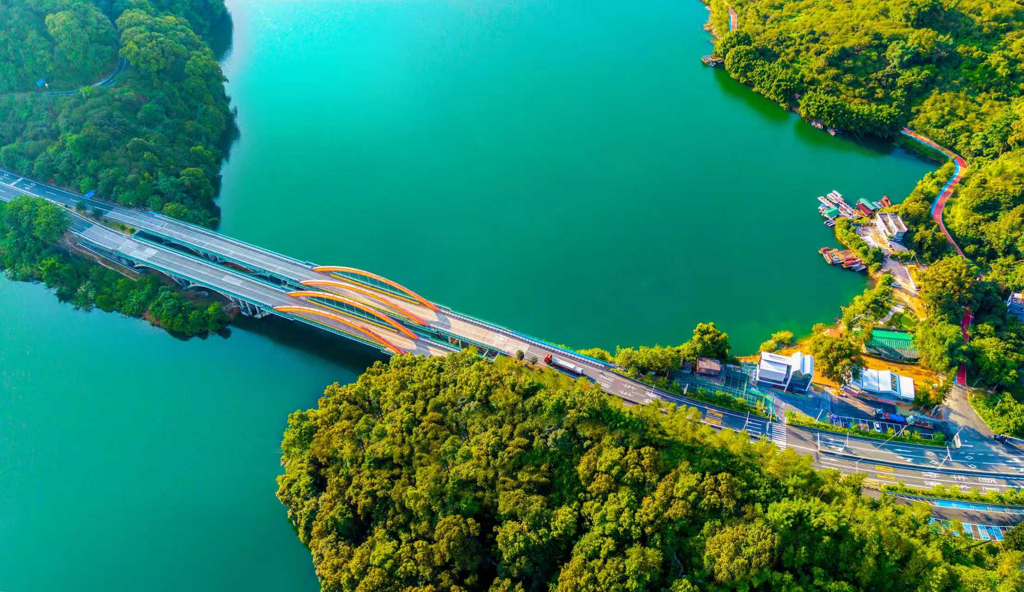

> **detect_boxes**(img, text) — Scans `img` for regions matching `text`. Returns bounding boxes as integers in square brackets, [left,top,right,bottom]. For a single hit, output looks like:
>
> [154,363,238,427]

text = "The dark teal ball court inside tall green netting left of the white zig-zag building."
[691,363,781,413]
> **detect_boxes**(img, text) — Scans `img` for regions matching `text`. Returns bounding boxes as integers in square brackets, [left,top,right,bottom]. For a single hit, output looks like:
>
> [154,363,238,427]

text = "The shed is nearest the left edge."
[696,357,723,377]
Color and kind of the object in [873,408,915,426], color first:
blue vehicle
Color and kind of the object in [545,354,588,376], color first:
white truck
